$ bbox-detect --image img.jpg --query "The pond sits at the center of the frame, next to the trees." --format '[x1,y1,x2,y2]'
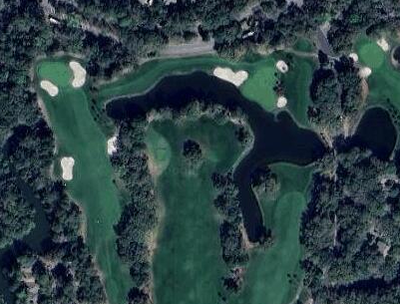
[103,71,327,243]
